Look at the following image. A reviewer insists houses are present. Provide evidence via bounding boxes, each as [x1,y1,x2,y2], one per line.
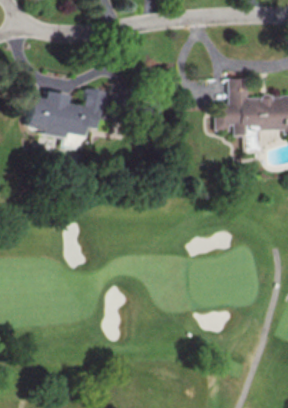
[28,88,106,149]
[213,78,288,138]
